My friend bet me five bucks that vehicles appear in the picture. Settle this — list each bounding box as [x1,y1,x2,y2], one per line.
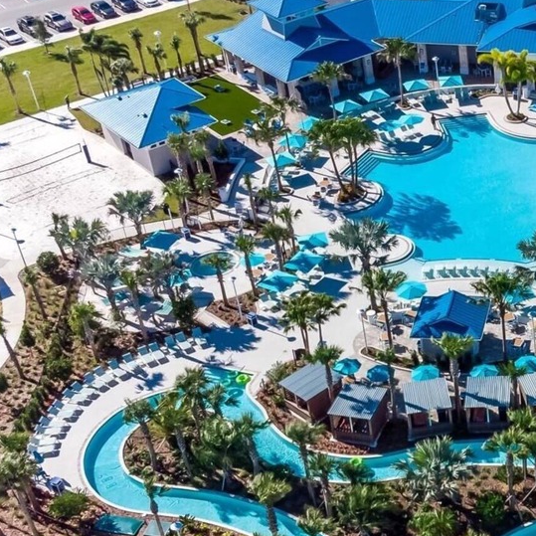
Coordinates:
[40,3,72,29]
[108,0,137,9]
[9,10,38,35]
[0,22,24,44]
[65,2,98,23]
[85,0,118,17]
